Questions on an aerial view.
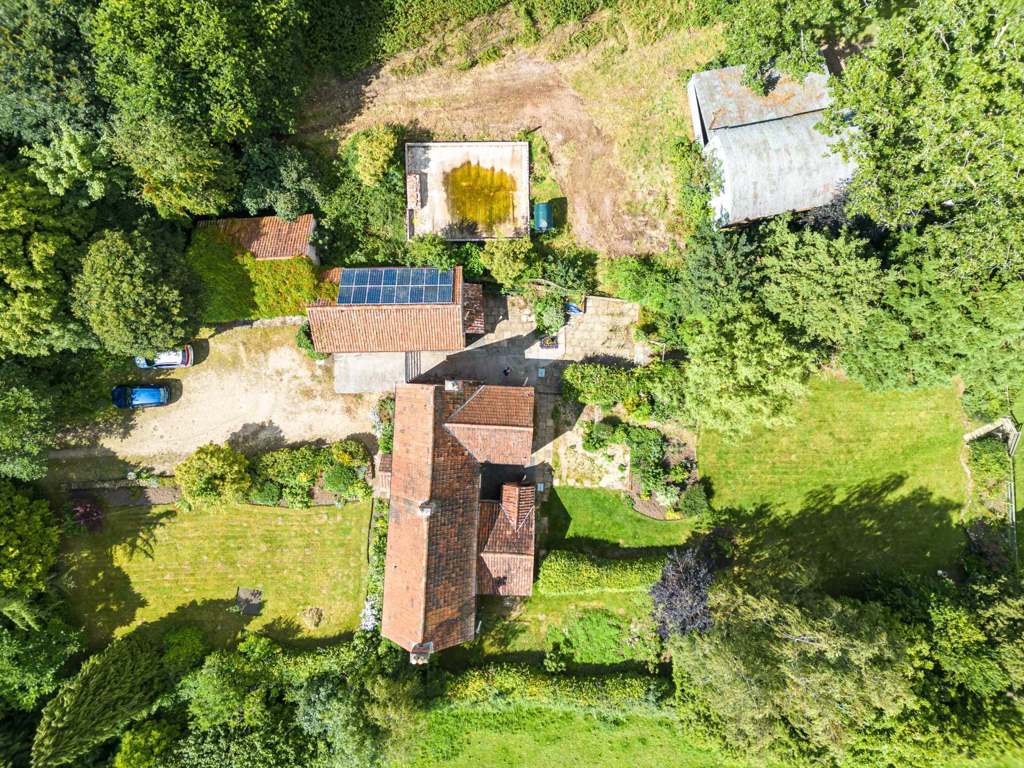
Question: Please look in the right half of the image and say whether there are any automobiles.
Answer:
No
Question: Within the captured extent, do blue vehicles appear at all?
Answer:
Yes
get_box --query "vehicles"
[137,343,195,371]
[113,383,172,411]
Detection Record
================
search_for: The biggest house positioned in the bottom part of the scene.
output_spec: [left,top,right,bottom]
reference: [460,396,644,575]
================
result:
[378,377,535,664]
